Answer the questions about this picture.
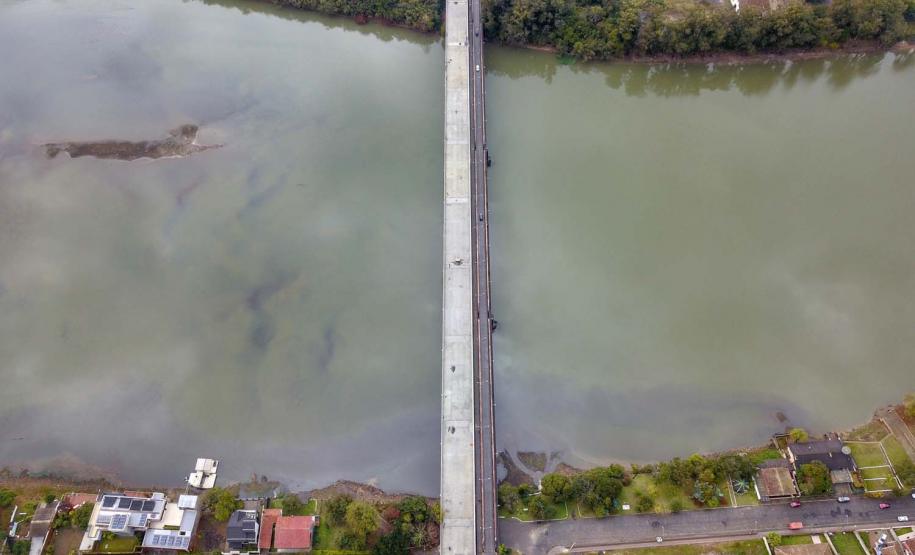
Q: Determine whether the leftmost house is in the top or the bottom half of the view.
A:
bottom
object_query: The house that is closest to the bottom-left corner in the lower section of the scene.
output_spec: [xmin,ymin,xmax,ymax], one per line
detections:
[29,502,62,537]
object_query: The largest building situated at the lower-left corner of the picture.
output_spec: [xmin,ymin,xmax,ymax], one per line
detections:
[79,492,203,551]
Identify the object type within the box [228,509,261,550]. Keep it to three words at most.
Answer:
house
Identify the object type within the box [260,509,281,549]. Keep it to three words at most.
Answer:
house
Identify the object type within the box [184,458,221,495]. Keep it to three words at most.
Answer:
pier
